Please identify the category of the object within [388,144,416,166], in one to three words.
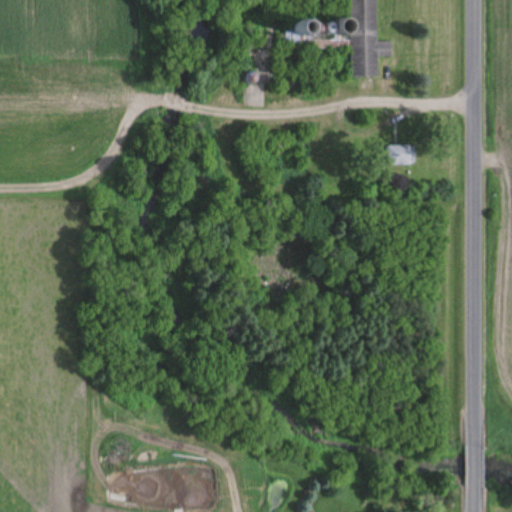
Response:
house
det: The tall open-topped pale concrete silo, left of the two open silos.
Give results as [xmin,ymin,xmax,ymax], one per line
[296,20,324,36]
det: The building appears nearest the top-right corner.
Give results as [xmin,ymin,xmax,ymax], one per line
[352,0,394,76]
